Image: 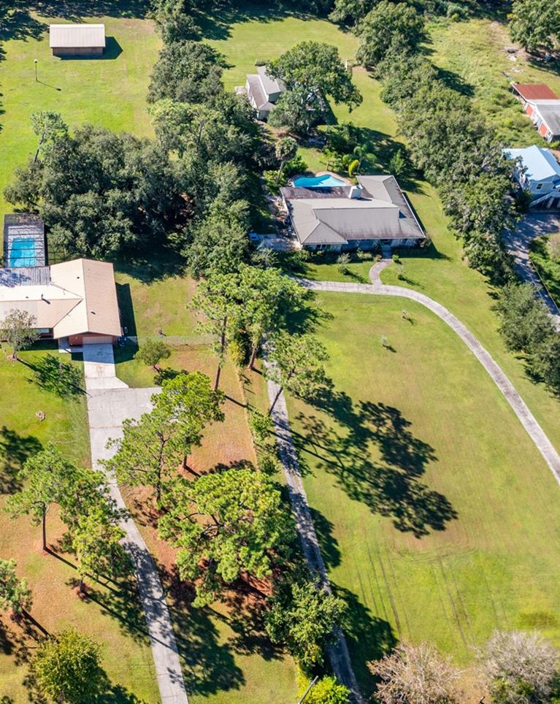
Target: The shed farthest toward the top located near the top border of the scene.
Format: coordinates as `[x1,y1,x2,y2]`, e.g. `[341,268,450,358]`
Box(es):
[49,25,106,57]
